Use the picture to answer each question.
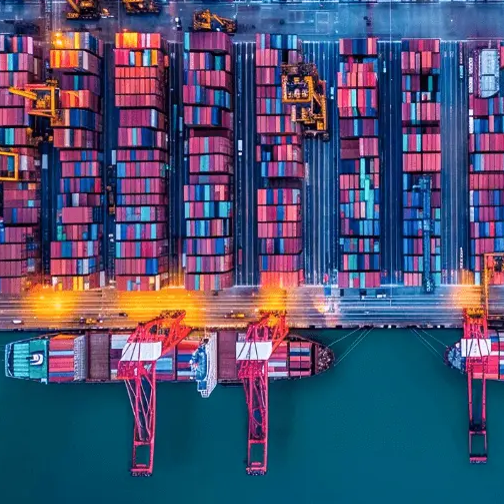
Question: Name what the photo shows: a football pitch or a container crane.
container crane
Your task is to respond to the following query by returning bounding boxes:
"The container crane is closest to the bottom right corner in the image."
[454,305,497,467]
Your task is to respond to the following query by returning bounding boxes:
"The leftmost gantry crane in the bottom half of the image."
[110,305,195,481]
